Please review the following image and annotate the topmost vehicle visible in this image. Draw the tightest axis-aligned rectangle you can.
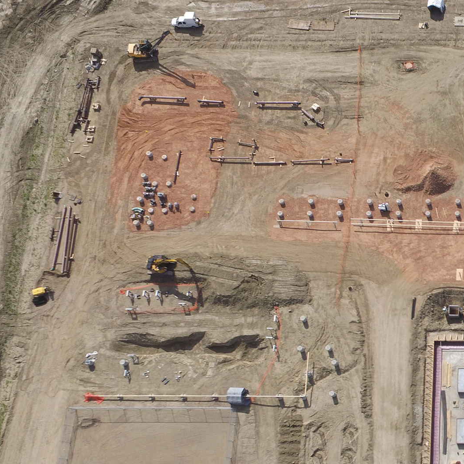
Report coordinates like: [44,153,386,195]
[171,14,204,31]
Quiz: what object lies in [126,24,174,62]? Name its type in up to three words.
work vehicle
